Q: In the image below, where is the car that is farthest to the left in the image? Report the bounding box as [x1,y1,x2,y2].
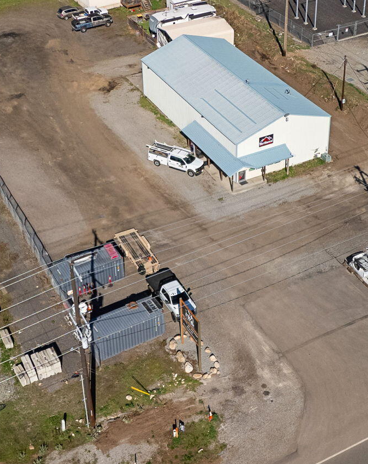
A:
[53,3,82,21]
